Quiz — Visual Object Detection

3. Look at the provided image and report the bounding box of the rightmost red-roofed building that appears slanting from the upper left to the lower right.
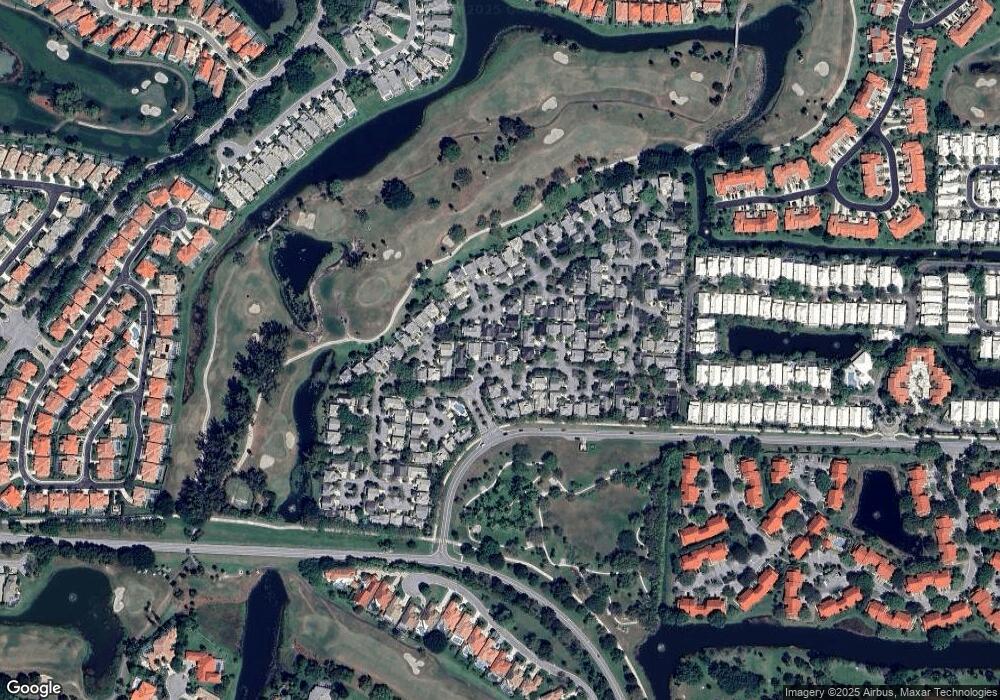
[971,584,1000,633]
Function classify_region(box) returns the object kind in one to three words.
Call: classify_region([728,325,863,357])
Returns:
pond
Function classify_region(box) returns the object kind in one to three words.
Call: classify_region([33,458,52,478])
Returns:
house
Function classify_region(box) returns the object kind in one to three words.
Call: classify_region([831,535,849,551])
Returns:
swimming pool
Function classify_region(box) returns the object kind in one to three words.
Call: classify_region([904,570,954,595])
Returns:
building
